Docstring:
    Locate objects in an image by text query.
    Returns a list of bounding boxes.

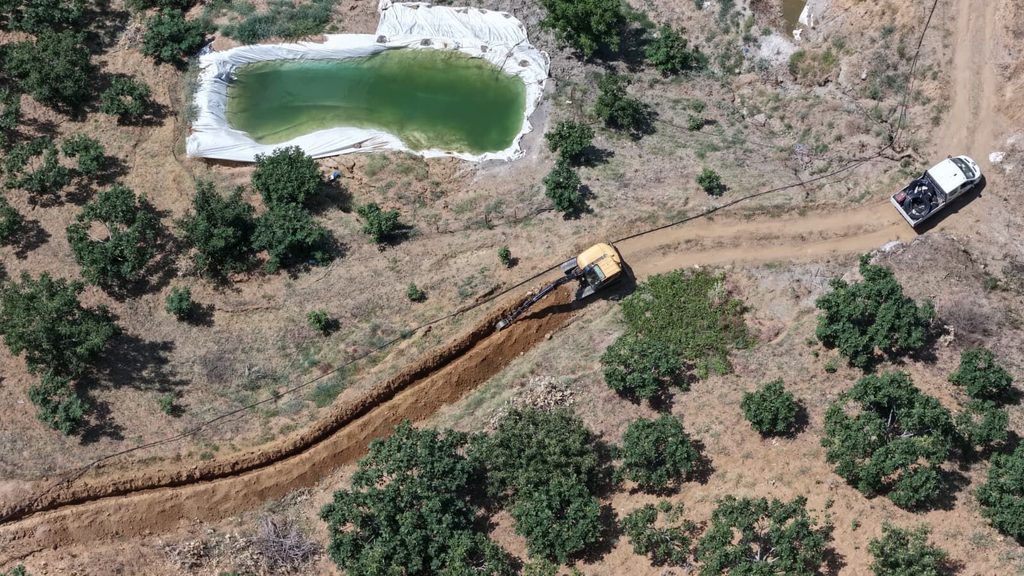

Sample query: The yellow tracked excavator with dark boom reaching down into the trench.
[497,242,633,329]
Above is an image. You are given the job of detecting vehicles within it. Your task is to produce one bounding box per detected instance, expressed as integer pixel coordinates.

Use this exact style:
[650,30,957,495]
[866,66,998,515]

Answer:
[886,163,986,232]
[497,242,633,329]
